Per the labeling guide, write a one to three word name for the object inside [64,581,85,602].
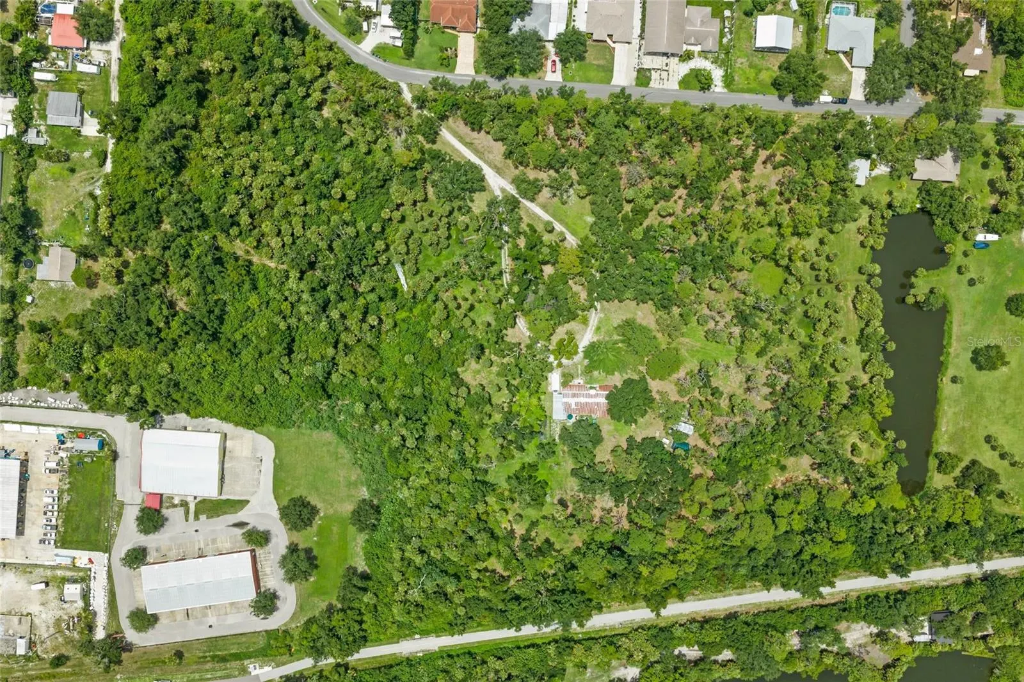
shed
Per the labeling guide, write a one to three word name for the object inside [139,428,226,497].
building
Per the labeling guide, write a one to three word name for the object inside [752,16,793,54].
barn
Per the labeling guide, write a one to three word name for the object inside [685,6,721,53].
house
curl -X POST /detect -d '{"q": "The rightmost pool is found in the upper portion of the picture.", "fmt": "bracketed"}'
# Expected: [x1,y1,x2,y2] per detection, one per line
[833,1,857,16]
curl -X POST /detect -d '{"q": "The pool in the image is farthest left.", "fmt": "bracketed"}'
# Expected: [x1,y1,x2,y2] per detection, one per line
[38,2,56,14]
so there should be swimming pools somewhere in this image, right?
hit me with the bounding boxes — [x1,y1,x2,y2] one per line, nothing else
[833,1,857,16]
[38,2,56,14]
